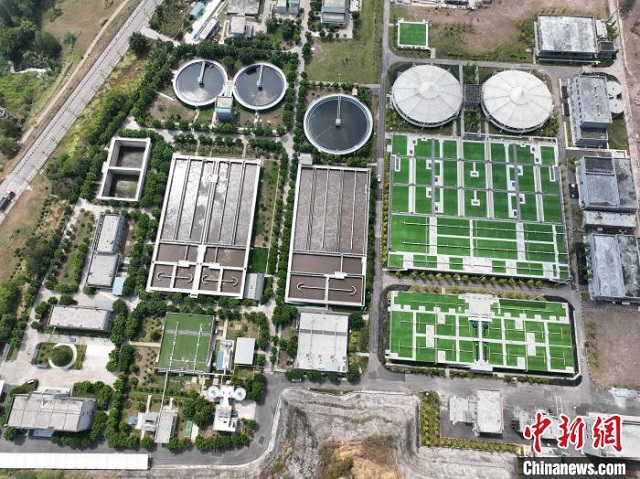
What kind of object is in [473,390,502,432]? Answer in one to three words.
house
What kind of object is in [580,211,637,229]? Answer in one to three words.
shed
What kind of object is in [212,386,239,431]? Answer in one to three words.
house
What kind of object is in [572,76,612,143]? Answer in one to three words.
building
